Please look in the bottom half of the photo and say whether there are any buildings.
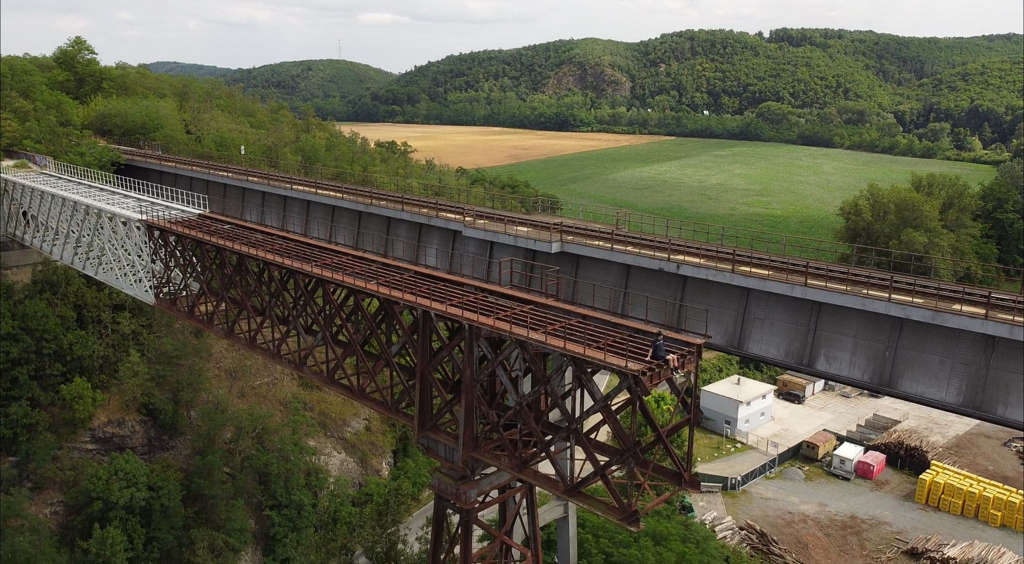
Yes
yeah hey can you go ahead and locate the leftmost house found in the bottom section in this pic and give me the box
[698,374,779,441]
